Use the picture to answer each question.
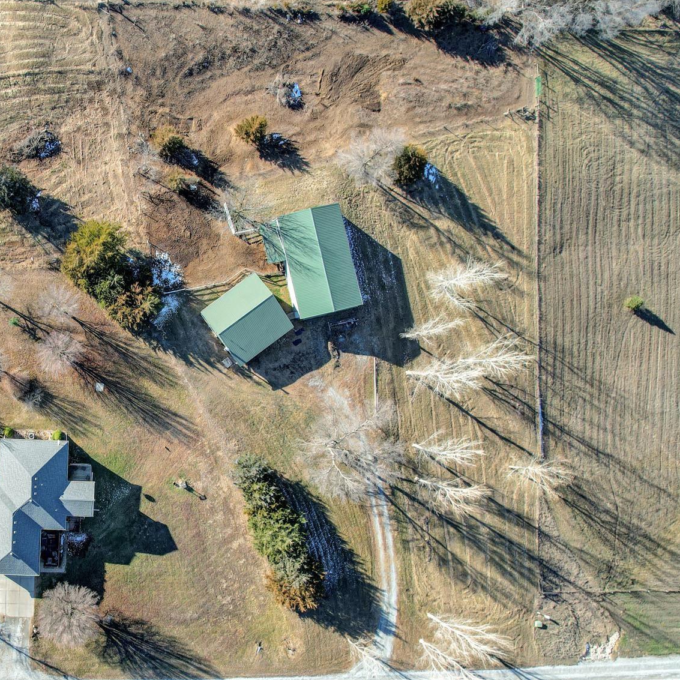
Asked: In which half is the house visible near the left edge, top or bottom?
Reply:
bottom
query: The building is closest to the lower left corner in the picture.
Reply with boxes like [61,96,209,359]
[0,437,94,577]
